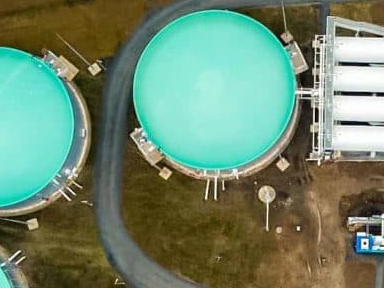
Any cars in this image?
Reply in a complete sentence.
No, I find no car anywhere in the image.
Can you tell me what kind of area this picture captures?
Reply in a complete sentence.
What you see here is an industrial area.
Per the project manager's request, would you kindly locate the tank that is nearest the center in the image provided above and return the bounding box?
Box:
[127,10,311,202]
